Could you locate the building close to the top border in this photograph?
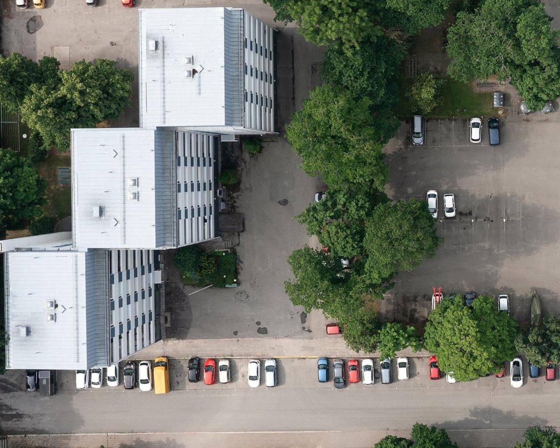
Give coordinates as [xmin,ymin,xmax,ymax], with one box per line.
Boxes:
[137,6,278,134]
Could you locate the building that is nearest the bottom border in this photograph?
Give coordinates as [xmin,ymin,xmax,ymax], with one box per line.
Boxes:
[0,246,164,371]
